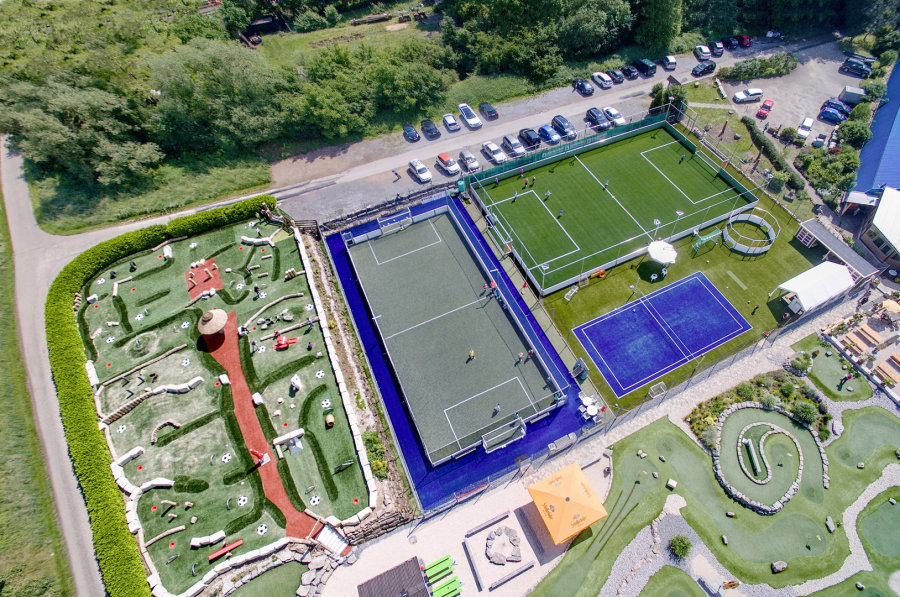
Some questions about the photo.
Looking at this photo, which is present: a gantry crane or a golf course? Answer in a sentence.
Looking from above, you can make out a golf course.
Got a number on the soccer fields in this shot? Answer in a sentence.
Looking from above, you can make out 2 soccer fields.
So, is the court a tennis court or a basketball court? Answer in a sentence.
It looks like the court is a tennis court.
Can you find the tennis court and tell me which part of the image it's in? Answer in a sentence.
The tennis court is located in the right region of the scene.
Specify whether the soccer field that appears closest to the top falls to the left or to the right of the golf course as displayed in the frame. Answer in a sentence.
In the image, the soccer field that appears closest to the top sits on the right side of the golf course.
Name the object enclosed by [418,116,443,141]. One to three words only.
car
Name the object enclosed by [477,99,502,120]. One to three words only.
car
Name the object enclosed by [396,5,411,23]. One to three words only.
work vehicle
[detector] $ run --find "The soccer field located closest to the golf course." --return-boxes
[325,192,579,516]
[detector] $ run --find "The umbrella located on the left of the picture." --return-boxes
[199,310,230,337]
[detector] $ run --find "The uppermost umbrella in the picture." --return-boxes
[642,238,682,270]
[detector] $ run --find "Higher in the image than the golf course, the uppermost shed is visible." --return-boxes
[250,14,277,37]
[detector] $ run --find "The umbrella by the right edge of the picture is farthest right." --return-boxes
[877,300,900,321]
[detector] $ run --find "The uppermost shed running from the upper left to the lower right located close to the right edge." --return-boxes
[792,218,880,290]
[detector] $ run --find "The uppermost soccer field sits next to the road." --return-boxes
[476,105,771,295]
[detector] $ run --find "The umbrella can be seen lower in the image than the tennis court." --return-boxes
[528,462,607,545]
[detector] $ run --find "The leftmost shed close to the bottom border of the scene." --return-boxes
[358,557,431,597]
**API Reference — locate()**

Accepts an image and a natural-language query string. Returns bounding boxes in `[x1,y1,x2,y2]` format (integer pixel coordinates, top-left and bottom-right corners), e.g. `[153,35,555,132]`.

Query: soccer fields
[476,105,771,295]
[325,192,579,516]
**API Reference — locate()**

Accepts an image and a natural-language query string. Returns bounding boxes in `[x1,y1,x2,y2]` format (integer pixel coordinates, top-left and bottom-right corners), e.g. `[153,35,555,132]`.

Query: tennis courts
[572,271,753,398]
